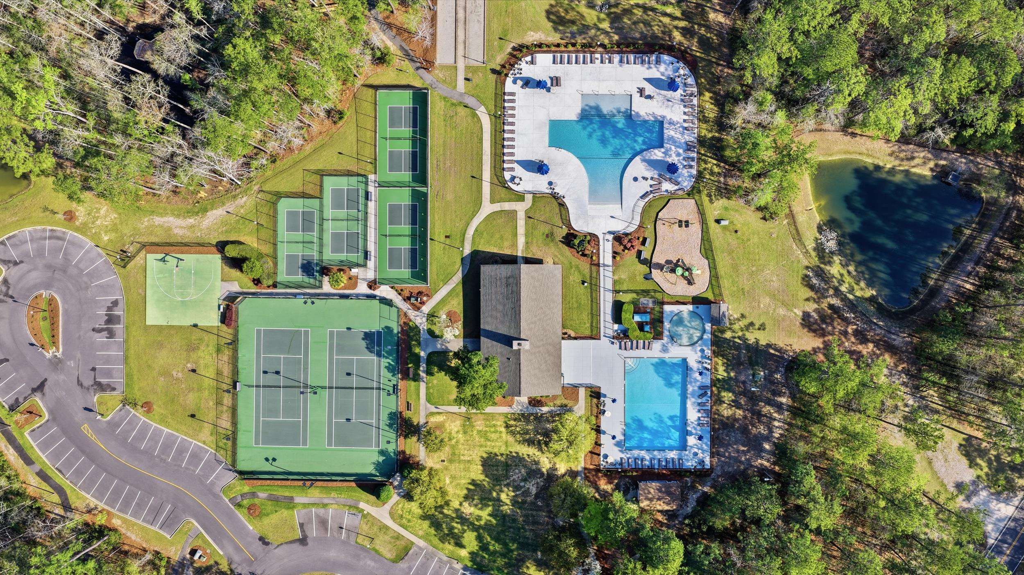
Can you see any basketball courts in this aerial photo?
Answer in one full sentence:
Yes, looking at the shot, I can spot a basketball court.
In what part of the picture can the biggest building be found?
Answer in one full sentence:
The biggest building appears toward the center of the photo.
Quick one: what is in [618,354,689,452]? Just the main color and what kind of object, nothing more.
blue swimming pool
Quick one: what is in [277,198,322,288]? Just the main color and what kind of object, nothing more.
green sports court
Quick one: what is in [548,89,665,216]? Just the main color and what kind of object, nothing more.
blue swimming pool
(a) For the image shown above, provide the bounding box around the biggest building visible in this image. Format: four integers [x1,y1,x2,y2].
[480,264,562,398]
